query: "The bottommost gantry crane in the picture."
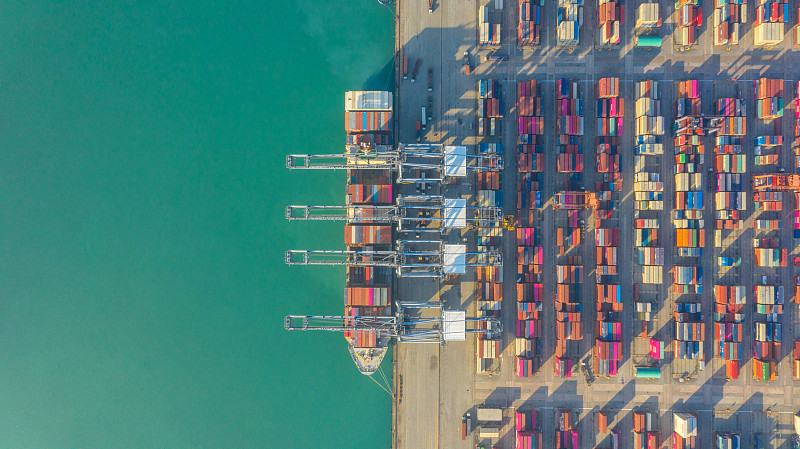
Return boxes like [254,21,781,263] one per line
[286,293,502,345]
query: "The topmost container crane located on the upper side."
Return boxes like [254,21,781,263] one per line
[674,113,727,137]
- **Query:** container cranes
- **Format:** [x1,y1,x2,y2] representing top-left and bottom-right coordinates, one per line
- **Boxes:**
[288,141,503,190]
[755,173,800,194]
[286,293,502,345]
[674,113,727,137]
[287,192,503,235]
[553,192,604,212]
[286,234,503,280]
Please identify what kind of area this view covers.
port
